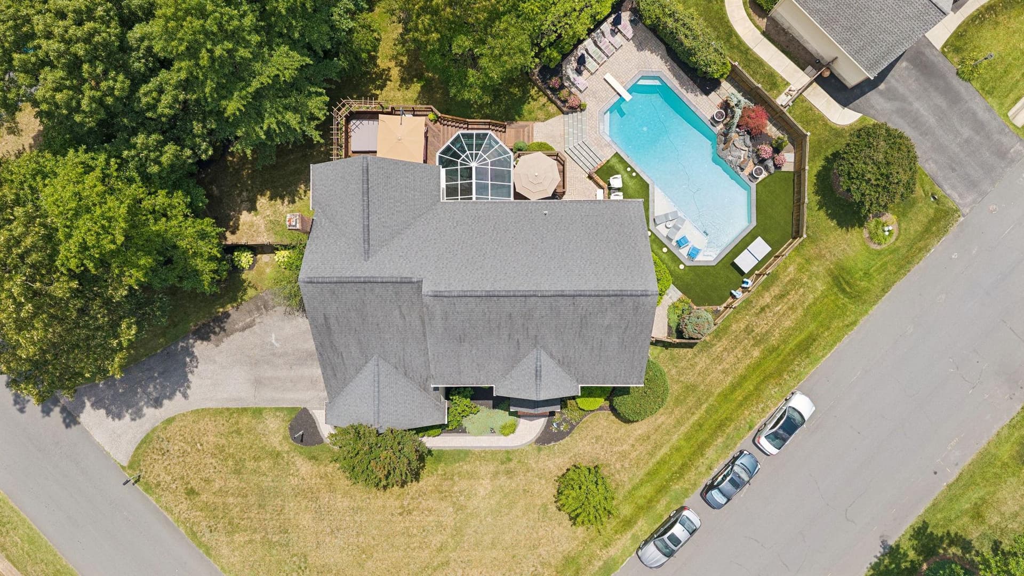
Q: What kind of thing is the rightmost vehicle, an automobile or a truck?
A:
automobile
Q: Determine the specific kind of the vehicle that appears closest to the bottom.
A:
car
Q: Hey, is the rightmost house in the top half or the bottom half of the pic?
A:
top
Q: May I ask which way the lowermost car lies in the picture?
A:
at an angle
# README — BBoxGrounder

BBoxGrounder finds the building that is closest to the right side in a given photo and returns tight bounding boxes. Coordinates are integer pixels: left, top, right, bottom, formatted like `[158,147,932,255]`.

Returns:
[774,0,954,87]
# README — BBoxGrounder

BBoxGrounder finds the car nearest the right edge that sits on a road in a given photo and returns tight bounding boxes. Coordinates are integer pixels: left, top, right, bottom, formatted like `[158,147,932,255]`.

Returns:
[752,393,810,454]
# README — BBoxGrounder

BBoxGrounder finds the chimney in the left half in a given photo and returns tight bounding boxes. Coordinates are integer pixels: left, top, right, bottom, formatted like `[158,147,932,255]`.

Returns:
[287,214,318,236]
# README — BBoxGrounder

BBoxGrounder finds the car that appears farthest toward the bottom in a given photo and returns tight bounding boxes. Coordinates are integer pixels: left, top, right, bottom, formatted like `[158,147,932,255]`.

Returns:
[640,506,698,565]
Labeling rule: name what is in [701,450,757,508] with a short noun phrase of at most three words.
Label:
car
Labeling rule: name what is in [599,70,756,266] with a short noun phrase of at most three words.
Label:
swimming pool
